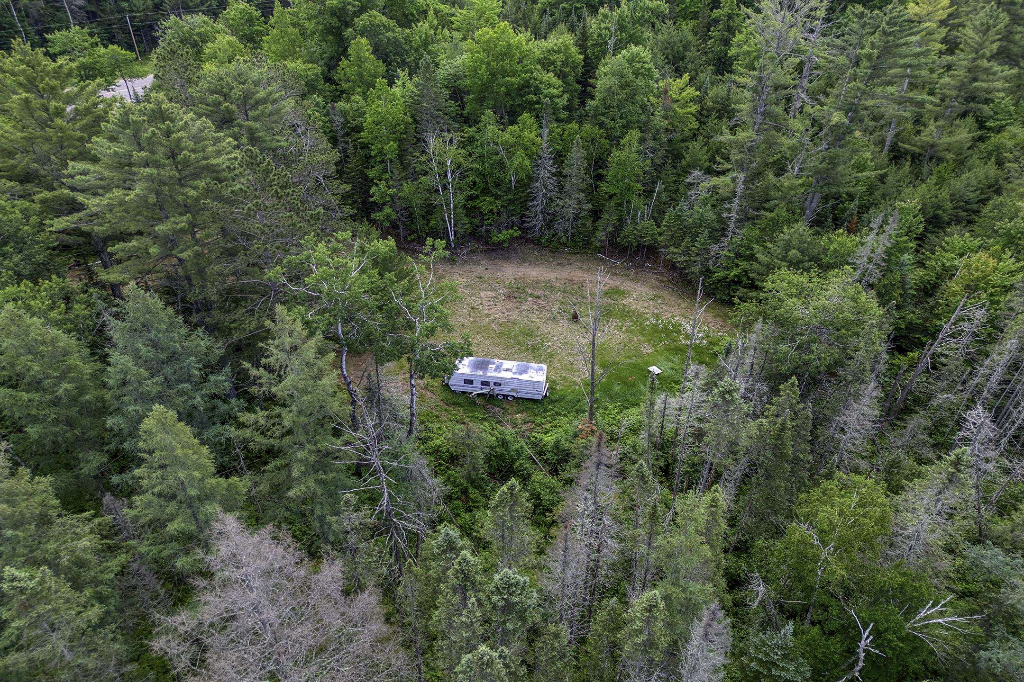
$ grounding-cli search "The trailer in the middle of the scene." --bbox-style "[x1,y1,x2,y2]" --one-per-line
[440,355,550,402]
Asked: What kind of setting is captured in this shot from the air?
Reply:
forest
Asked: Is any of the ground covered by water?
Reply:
No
